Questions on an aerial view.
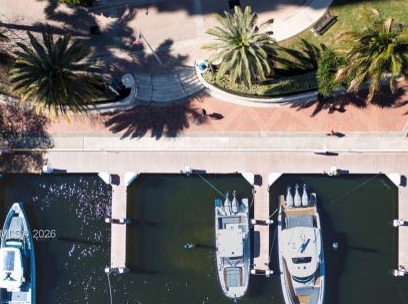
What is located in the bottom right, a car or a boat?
boat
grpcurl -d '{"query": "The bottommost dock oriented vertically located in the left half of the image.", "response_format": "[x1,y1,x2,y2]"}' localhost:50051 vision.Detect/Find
[97,173,139,272]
